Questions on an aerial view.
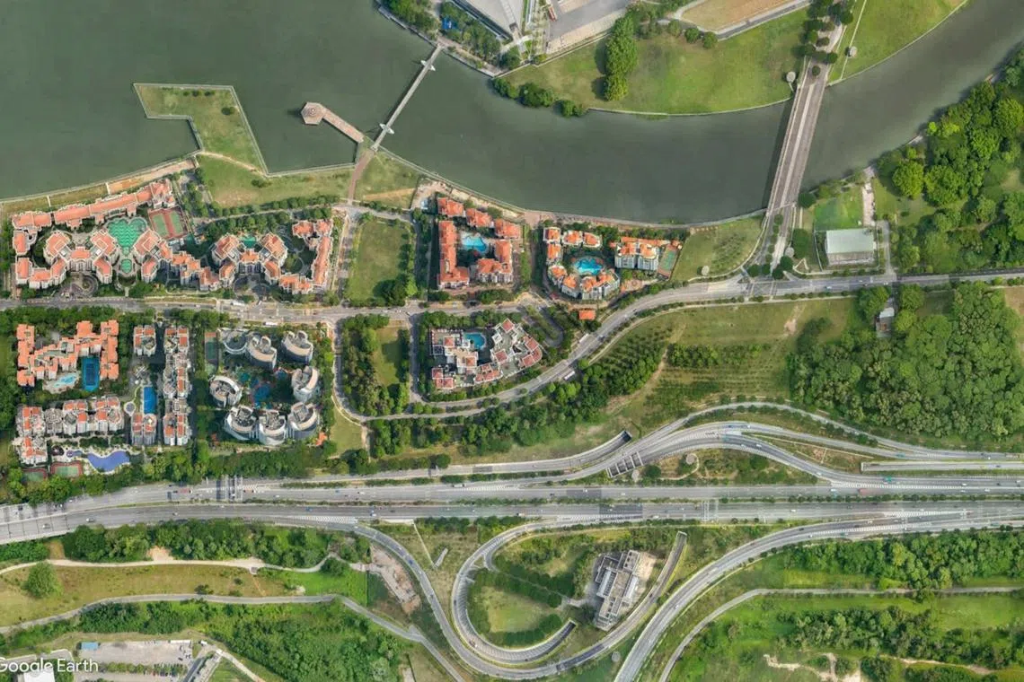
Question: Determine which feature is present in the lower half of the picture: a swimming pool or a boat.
swimming pool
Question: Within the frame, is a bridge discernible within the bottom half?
No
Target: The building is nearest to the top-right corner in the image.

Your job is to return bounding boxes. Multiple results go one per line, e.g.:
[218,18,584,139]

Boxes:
[826,229,876,270]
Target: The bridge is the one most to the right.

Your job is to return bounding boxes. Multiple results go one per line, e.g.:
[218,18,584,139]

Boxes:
[766,82,829,217]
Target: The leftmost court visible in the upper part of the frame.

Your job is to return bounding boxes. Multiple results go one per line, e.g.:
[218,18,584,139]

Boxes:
[148,208,186,239]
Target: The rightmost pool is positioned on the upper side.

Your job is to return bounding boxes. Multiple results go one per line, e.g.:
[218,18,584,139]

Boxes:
[574,256,605,277]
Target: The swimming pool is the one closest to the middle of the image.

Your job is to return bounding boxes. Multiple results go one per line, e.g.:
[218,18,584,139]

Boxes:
[464,331,486,350]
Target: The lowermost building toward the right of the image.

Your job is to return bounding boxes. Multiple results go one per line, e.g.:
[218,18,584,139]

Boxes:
[594,551,639,631]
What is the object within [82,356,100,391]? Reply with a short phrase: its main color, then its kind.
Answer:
blue swimming pool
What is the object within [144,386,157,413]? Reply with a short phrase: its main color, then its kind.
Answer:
blue swimming pool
